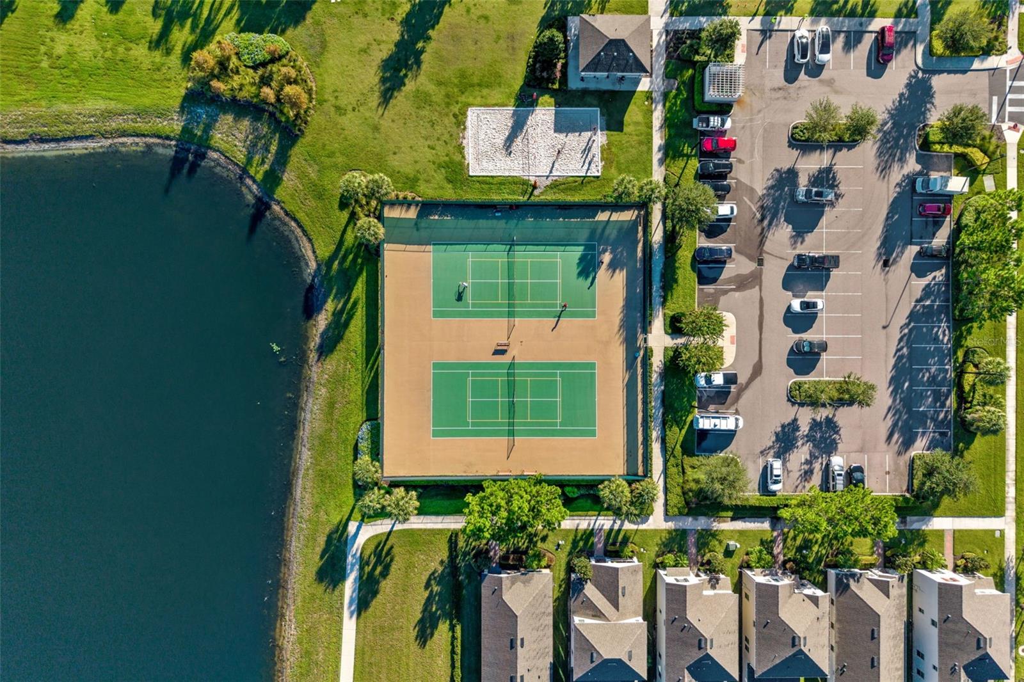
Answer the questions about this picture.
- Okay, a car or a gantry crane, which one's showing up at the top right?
car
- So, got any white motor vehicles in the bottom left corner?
No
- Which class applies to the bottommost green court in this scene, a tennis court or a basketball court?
tennis court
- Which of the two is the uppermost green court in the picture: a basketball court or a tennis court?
tennis court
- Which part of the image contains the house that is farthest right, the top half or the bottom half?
bottom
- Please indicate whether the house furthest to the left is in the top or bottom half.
bottom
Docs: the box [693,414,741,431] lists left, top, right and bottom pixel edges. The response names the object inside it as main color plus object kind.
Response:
white vehicle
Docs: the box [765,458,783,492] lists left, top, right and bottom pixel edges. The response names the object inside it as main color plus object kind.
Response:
white car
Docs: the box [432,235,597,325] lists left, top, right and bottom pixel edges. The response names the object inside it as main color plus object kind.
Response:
green tennis court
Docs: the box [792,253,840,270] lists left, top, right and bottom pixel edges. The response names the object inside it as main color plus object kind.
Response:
black vehicle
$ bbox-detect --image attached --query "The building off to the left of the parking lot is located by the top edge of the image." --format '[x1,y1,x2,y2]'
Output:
[579,14,651,81]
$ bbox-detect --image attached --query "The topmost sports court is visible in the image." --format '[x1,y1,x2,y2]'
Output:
[468,94,602,187]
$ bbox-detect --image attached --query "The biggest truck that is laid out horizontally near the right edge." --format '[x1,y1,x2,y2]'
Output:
[911,175,973,196]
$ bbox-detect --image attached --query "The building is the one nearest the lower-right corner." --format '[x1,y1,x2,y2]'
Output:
[914,569,1010,682]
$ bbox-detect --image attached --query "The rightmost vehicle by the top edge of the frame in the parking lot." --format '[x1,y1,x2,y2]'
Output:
[876,26,895,63]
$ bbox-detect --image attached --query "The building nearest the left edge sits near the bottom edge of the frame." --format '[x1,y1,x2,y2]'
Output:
[481,561,553,682]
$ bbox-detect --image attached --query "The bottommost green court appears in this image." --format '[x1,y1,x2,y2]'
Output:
[432,356,597,446]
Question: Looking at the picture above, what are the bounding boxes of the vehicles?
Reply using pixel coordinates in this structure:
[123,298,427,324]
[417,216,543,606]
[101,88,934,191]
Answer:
[698,159,732,175]
[847,461,865,482]
[695,245,731,262]
[789,298,824,314]
[697,180,731,196]
[792,338,827,355]
[793,187,835,204]
[792,253,840,270]
[827,455,846,492]
[917,201,951,217]
[695,373,737,389]
[710,205,737,219]
[693,414,741,431]
[813,28,831,64]
[765,458,783,492]
[876,26,895,63]
[918,243,949,258]
[792,30,810,64]
[911,175,973,196]
[690,114,732,131]
[702,136,736,153]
